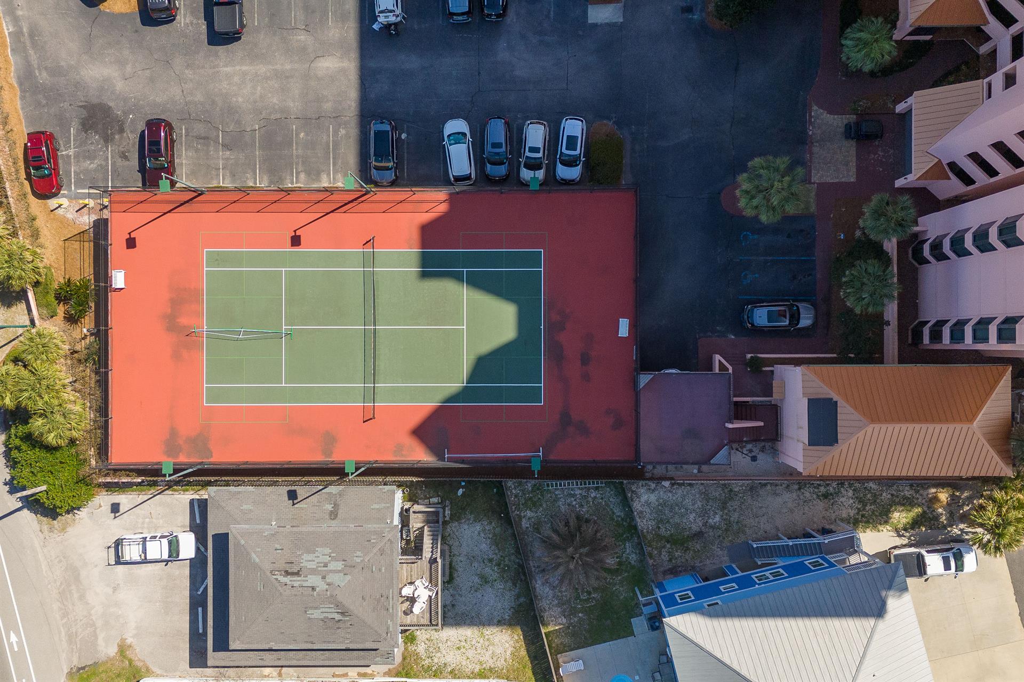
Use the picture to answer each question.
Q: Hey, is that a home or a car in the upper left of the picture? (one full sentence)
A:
What appears in the upper left of the picture is a car.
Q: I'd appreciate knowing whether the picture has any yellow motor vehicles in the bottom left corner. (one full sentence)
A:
No, the scene shows no yellow motor vehicle in the bottom left corner.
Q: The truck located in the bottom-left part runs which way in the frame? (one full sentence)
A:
In this picture, the truck located in the bottom-left part is oriented horizontally.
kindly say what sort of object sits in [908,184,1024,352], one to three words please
building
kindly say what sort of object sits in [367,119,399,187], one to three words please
car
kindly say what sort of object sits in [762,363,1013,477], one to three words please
building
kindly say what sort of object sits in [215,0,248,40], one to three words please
truck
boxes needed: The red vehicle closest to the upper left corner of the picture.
[26,129,67,197]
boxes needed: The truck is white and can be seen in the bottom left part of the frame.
[111,531,199,564]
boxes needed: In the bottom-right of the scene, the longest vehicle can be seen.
[889,543,977,578]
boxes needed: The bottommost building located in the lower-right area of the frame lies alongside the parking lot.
[651,548,931,682]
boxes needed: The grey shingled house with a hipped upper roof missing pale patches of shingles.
[208,483,405,667]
